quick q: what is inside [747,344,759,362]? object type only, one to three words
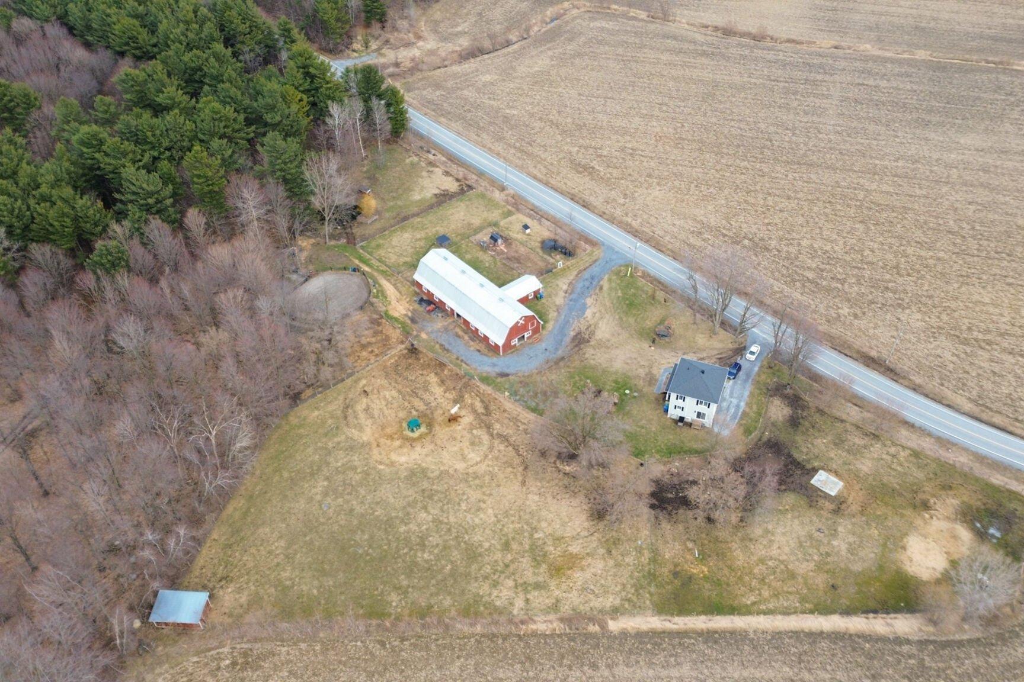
vehicle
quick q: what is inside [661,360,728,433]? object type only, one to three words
house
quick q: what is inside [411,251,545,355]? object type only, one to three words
barn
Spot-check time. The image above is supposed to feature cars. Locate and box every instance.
[728,361,741,381]
[747,344,759,362]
